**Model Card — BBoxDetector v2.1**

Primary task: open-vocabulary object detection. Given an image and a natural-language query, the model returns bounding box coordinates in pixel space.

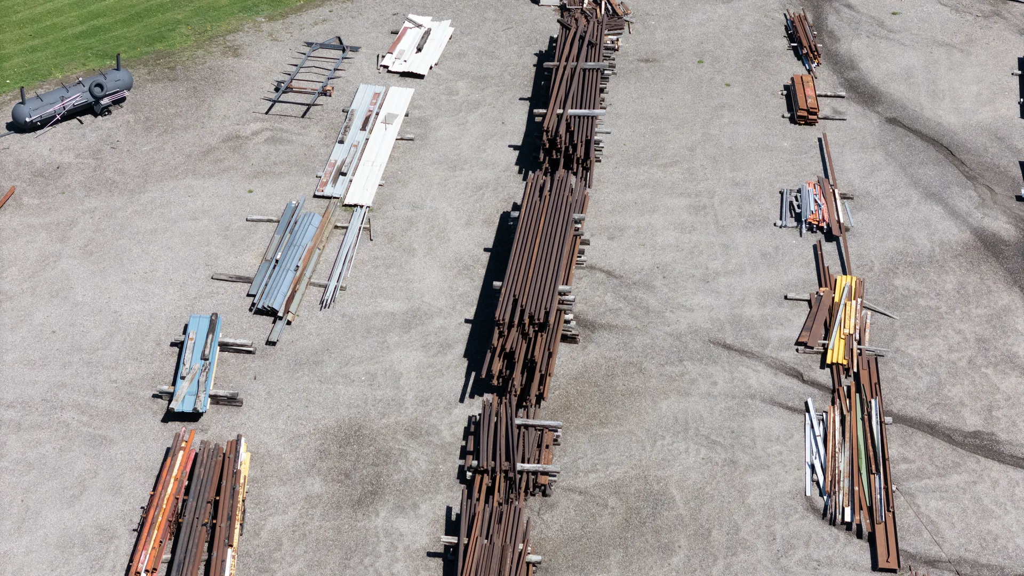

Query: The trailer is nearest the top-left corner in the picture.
[0,54,132,137]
